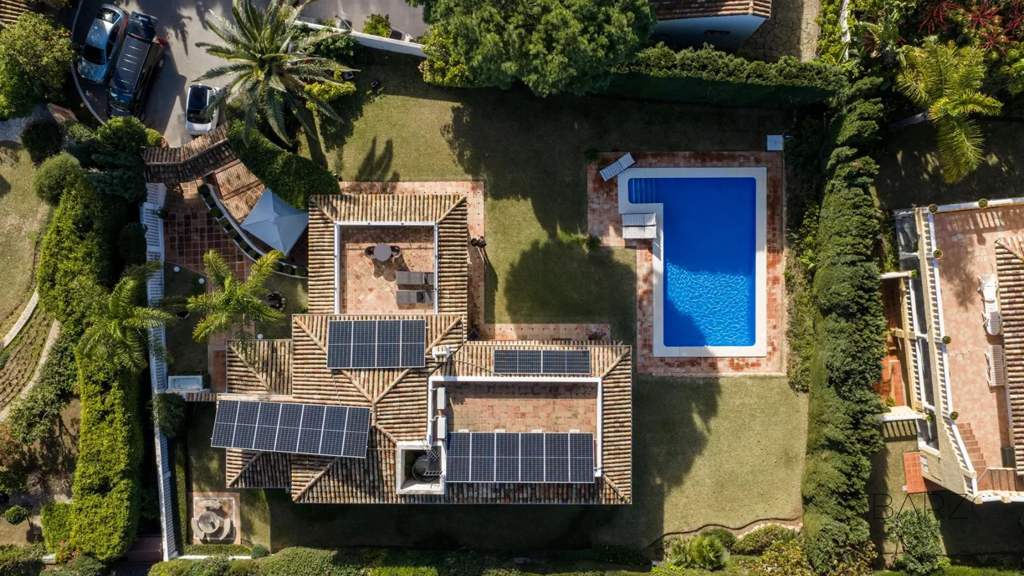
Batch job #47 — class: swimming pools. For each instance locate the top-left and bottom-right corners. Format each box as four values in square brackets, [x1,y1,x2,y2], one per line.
[619,167,767,357]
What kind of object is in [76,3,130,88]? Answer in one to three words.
car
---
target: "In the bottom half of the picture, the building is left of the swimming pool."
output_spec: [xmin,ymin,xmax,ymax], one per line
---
[214,192,635,507]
